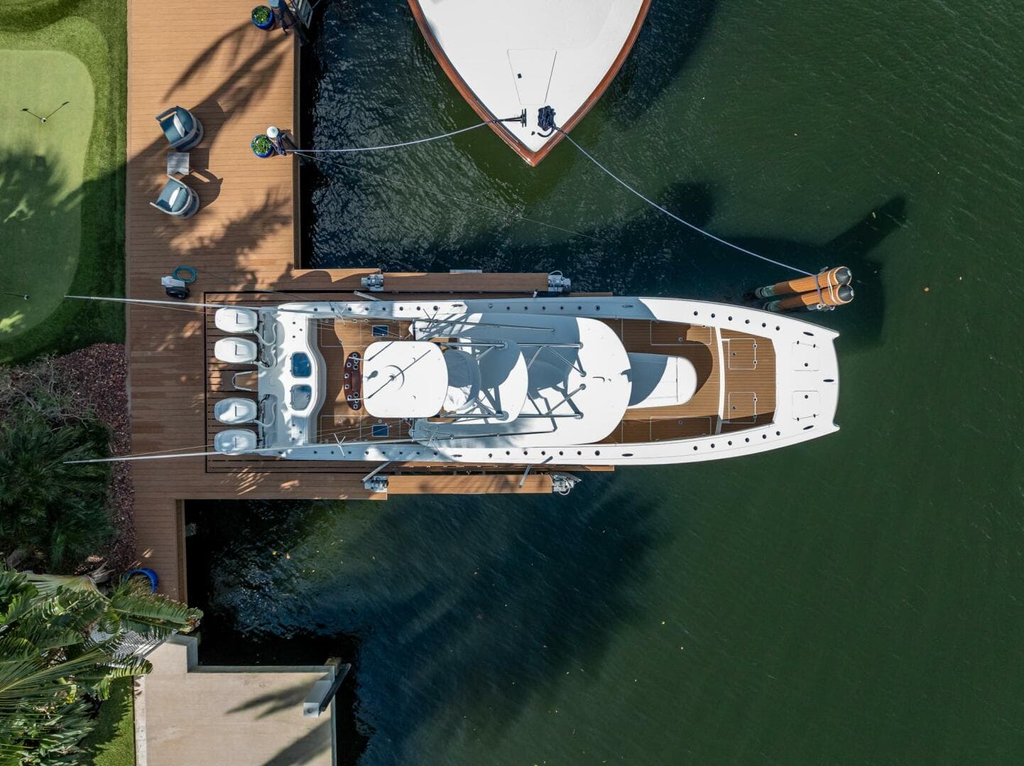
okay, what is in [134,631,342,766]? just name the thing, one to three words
pier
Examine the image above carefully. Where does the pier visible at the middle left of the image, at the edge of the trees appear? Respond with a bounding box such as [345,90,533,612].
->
[127,0,391,642]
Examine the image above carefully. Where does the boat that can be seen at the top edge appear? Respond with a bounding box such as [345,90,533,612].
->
[409,0,651,167]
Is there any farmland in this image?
No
